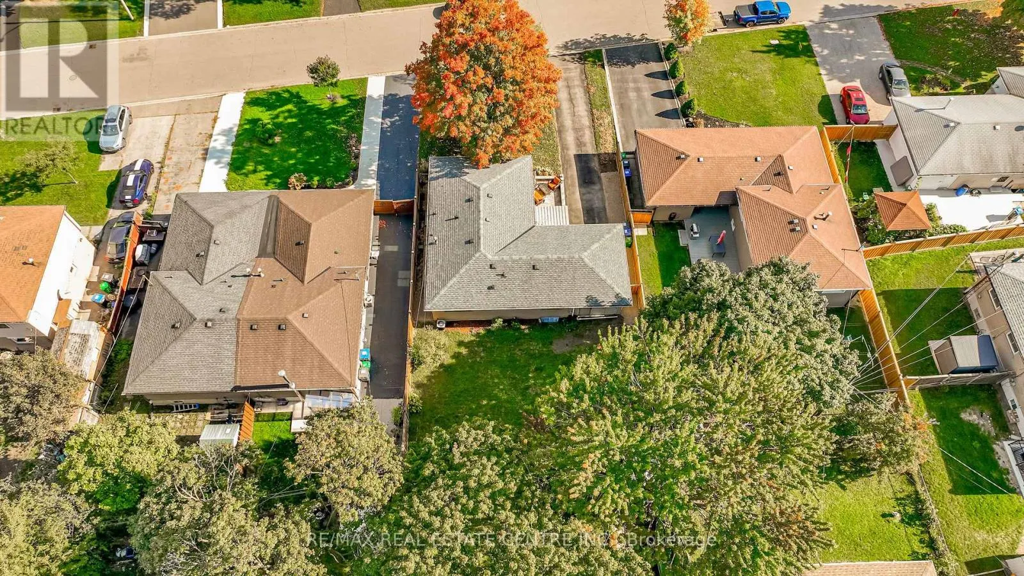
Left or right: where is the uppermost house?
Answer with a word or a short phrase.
right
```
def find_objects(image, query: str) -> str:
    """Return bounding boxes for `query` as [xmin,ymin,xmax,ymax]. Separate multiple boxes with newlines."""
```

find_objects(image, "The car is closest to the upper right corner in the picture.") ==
[875,58,915,109]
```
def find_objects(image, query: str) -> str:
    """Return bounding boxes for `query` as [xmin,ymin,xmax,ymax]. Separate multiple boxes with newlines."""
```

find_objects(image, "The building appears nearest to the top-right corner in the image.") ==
[885,66,1024,192]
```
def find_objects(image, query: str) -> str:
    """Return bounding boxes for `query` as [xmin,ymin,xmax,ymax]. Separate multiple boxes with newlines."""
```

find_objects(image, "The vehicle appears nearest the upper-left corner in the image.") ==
[92,97,133,154]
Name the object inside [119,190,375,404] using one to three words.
house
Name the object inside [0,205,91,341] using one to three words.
house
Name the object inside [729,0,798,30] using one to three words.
truck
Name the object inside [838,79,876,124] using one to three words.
car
